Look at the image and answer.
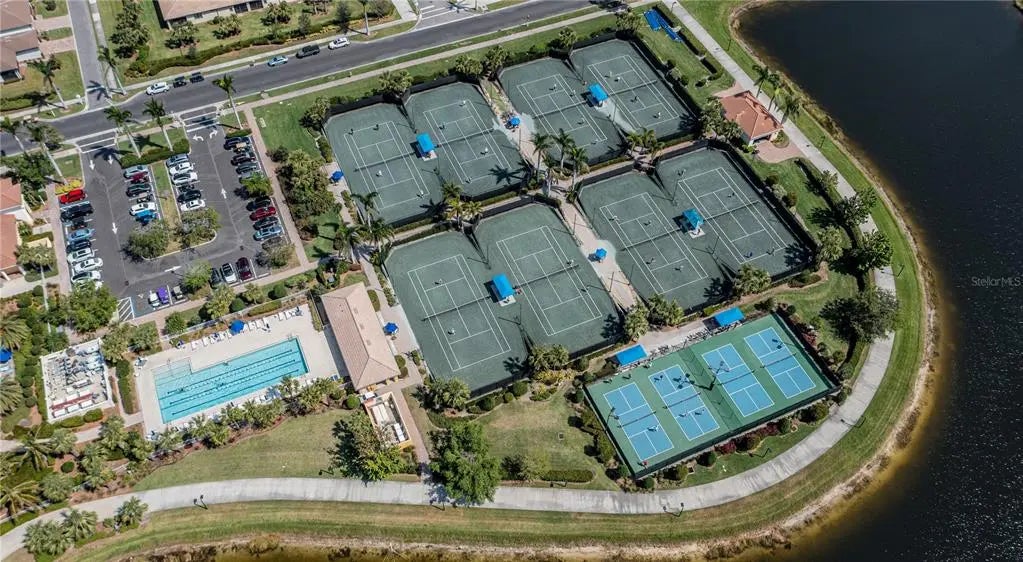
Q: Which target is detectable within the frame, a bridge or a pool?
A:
pool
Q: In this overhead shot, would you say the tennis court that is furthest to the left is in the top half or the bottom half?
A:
top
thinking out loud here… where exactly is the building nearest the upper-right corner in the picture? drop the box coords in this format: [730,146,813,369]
[715,90,783,145]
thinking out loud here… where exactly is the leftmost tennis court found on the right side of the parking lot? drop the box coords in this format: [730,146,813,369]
[322,102,453,229]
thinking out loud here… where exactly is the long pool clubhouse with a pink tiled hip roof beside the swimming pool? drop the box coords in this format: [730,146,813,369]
[317,281,400,393]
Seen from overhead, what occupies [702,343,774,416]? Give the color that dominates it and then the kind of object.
blue sports court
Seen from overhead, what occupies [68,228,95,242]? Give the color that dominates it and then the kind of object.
blue vehicle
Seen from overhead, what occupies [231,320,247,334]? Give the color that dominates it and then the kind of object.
blue umbrella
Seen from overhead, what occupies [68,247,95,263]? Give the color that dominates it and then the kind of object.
white car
